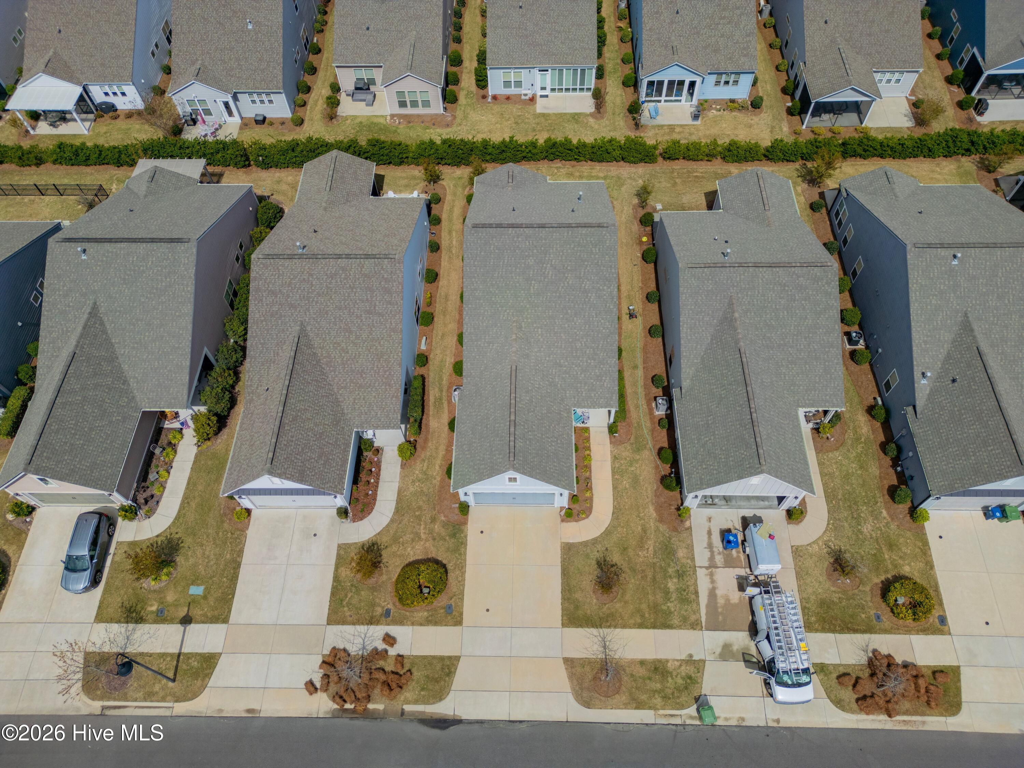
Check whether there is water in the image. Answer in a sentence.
No, the picture contains no water.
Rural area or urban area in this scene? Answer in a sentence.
It looks urban.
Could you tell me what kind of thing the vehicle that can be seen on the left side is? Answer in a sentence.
The vehicle that can be seen on the left side is an automobile.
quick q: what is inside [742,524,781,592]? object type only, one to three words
trailer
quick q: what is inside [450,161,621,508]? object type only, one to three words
house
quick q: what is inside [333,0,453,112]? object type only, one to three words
house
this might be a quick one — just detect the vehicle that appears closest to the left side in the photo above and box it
[59,513,117,596]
